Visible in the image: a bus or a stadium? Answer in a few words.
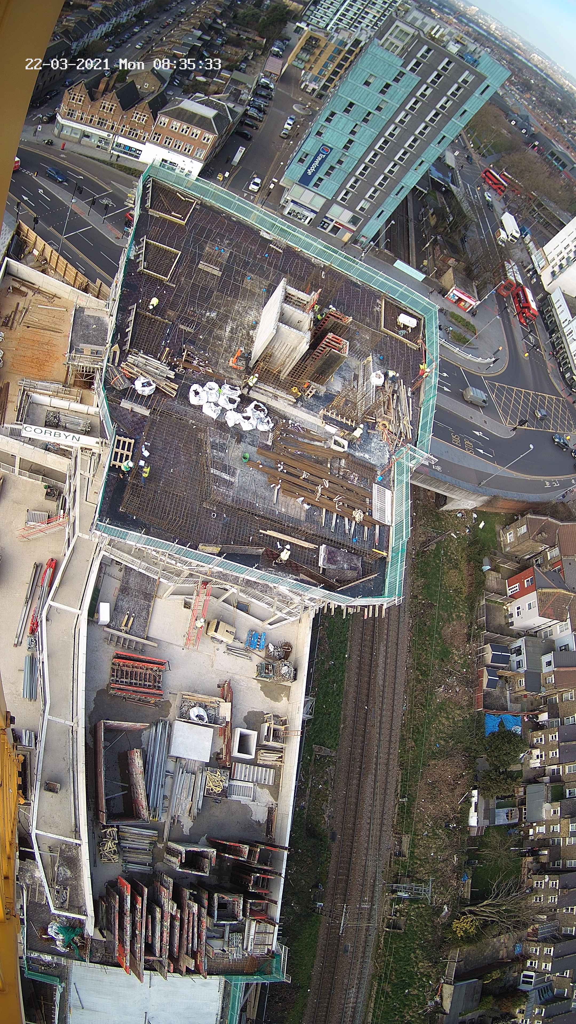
bus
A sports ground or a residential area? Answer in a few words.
residential area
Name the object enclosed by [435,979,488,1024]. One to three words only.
shed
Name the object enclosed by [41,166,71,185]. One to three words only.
car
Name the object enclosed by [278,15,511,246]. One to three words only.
building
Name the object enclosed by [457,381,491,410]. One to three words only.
van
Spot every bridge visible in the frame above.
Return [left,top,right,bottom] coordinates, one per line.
[394,467,496,516]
